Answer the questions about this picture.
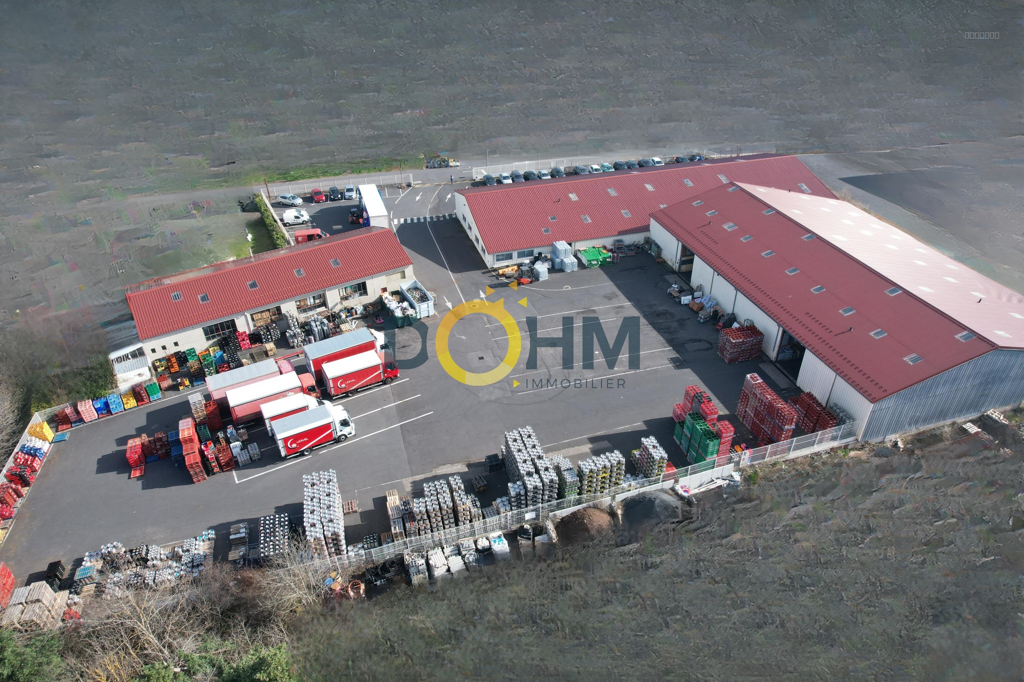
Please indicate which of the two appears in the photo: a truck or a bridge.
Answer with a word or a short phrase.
truck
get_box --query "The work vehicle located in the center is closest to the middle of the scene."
[516,266,542,288]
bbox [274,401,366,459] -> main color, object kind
white truck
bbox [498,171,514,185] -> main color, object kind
white car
